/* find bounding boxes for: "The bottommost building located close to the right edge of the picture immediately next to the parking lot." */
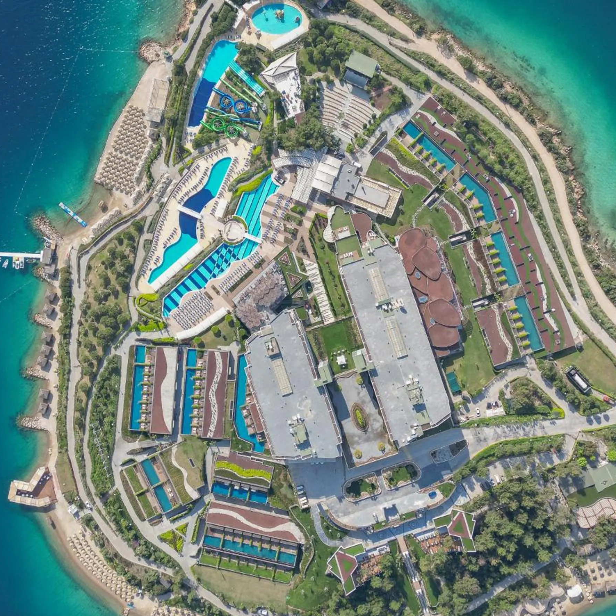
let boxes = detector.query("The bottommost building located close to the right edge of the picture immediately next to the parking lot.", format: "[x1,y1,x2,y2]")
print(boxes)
[554,459,616,526]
